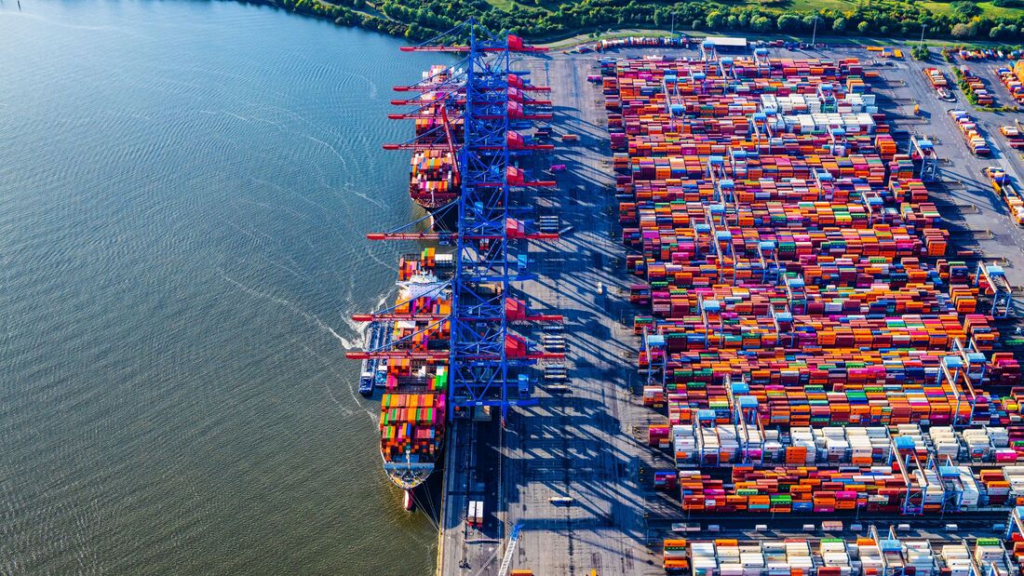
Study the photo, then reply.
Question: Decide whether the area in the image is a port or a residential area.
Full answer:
The picture captures a port.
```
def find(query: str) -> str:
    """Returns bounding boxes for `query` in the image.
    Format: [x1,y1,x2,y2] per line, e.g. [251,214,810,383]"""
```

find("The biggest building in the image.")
[702,36,754,54]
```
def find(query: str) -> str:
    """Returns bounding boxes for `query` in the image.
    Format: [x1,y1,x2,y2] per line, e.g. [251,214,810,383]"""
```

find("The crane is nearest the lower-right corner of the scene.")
[1004,503,1024,547]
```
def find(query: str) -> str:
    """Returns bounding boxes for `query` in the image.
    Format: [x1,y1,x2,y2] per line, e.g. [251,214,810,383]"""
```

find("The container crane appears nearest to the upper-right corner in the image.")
[913,133,946,186]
